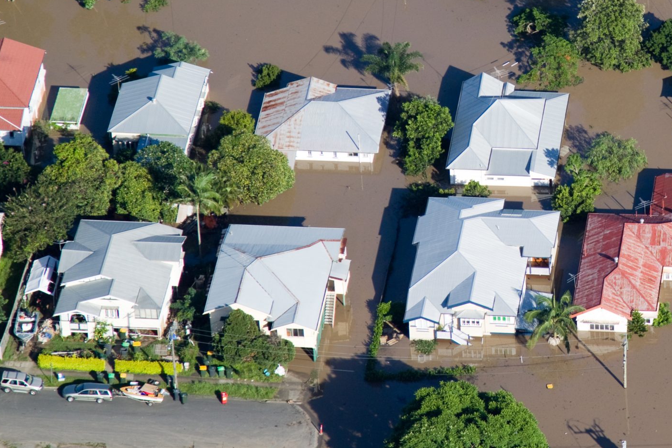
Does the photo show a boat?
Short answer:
Yes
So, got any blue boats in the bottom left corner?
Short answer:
No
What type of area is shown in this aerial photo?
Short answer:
residential area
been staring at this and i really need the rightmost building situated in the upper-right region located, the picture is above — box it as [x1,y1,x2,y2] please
[445,58,570,186]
